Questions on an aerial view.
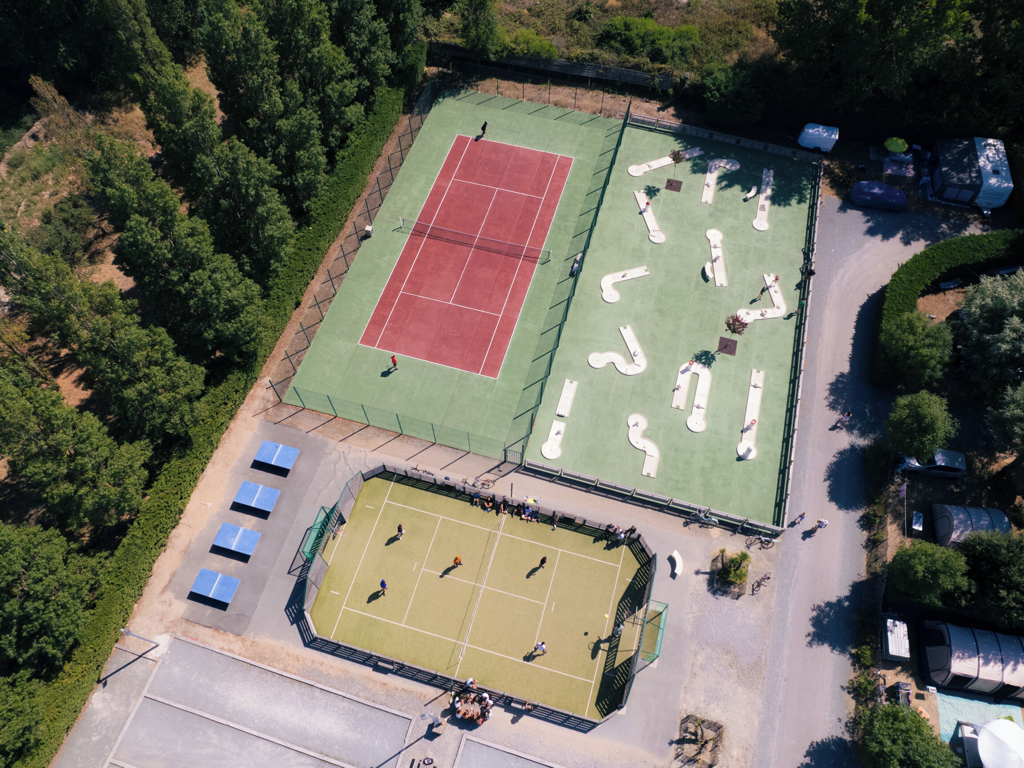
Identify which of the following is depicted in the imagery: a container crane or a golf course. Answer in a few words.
golf course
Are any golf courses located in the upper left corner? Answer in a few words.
No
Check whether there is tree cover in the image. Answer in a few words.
Yes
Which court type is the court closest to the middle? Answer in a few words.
tennis court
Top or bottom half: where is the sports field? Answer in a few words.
bottom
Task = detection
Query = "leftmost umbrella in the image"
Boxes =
[883,138,908,164]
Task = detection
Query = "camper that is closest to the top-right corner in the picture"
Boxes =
[970,140,1011,218]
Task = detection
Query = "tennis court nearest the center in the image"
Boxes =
[282,88,623,465]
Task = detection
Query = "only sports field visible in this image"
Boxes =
[308,470,659,723]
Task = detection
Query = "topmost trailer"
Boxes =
[787,124,839,152]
